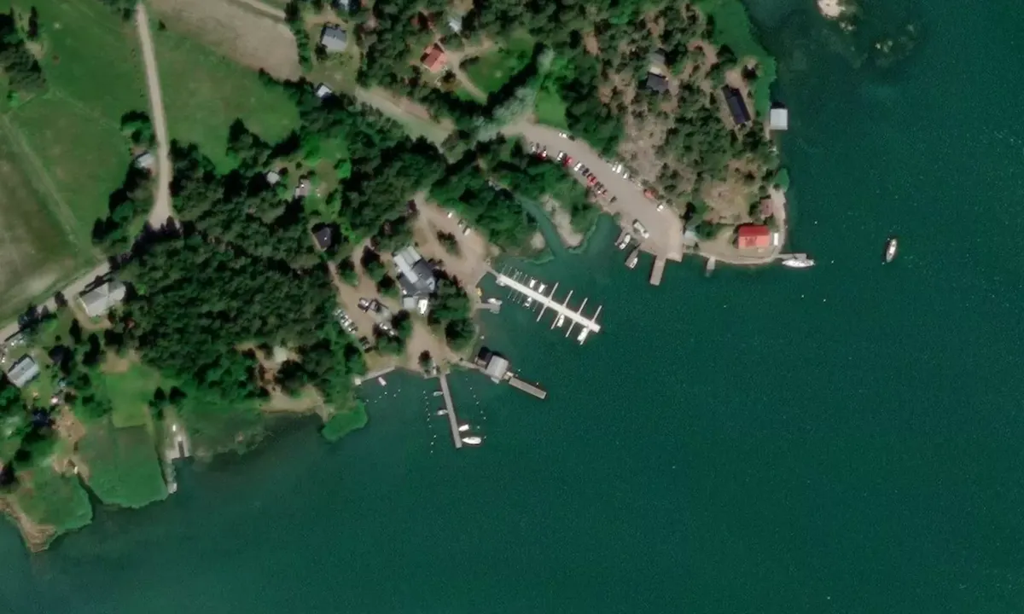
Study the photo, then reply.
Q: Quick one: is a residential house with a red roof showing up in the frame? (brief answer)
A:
Yes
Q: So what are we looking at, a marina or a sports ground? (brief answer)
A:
marina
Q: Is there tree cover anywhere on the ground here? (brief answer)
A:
Yes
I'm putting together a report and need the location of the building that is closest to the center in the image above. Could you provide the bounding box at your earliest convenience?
[475,351,510,382]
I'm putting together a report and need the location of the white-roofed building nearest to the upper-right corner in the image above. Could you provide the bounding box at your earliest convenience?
[770,109,787,130]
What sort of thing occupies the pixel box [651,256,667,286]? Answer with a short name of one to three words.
pier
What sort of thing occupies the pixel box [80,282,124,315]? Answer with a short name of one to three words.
house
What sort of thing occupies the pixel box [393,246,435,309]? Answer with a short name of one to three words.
building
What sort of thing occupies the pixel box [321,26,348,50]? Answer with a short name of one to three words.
house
